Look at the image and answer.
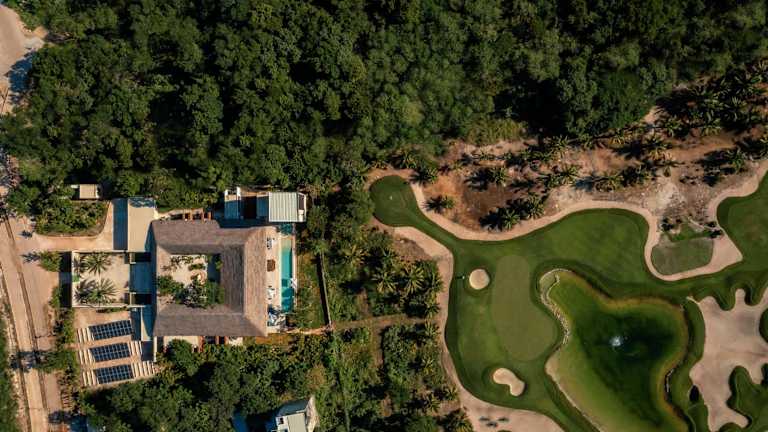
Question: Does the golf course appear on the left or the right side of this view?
right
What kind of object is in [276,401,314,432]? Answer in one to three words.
house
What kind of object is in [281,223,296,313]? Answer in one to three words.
swimming pool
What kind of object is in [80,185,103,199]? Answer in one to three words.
shed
